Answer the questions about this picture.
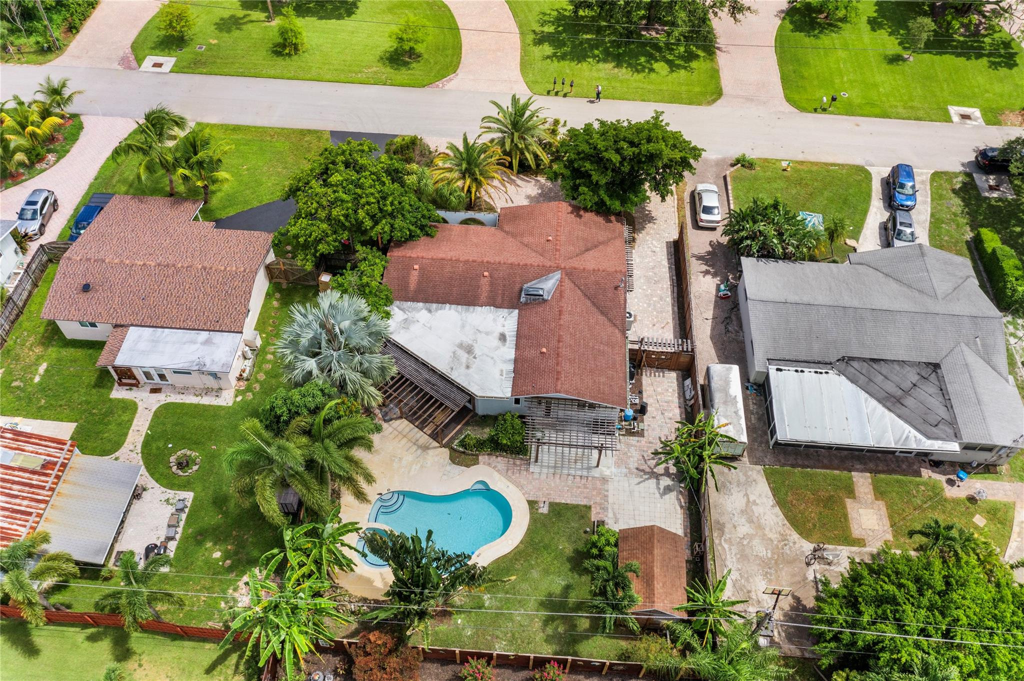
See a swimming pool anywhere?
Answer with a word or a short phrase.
Yes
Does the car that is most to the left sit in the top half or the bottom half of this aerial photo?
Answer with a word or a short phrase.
top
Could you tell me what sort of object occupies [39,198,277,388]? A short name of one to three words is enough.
house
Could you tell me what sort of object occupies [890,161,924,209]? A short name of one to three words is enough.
car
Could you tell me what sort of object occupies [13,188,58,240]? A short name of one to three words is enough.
car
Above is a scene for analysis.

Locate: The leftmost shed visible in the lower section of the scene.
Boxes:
[0,429,82,534]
